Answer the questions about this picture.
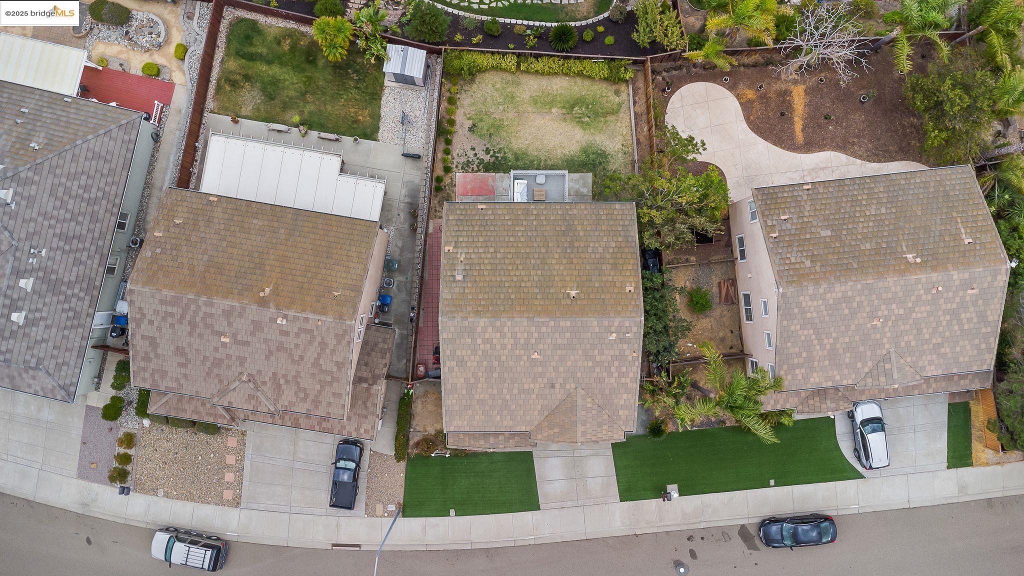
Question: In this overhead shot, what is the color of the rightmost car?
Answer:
white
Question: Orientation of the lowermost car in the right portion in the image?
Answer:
horizontally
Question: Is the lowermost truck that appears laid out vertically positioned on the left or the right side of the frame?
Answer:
left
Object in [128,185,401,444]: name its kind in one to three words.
house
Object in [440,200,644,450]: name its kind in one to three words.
house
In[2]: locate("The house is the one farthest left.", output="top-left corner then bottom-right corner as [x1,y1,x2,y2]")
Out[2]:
[0,79,158,406]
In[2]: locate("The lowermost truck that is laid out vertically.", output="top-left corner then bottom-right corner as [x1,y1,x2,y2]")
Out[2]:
[327,438,364,514]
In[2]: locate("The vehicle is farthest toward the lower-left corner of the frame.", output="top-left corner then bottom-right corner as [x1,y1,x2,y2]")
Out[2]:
[144,527,229,576]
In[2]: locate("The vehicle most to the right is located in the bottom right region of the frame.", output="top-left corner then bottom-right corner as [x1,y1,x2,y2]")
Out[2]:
[848,402,893,471]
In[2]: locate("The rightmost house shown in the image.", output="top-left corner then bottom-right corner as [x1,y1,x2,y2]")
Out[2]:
[733,162,1024,414]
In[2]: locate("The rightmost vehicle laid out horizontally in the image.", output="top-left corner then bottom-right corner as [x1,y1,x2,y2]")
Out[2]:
[757,512,836,552]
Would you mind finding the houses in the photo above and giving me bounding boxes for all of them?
[733,162,1024,414]
[0,79,158,406]
[128,185,401,444]
[440,200,644,450]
